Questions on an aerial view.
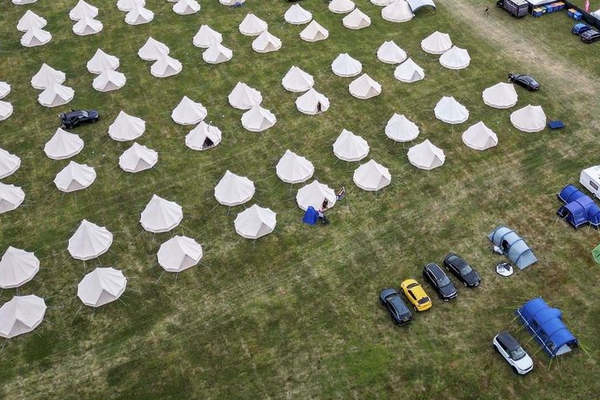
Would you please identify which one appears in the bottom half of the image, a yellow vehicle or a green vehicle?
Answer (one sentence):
The feature located in the bottom half of the image is a yellow vehicle.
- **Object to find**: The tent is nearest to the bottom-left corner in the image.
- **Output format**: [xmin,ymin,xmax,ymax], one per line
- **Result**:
[0,289,57,345]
